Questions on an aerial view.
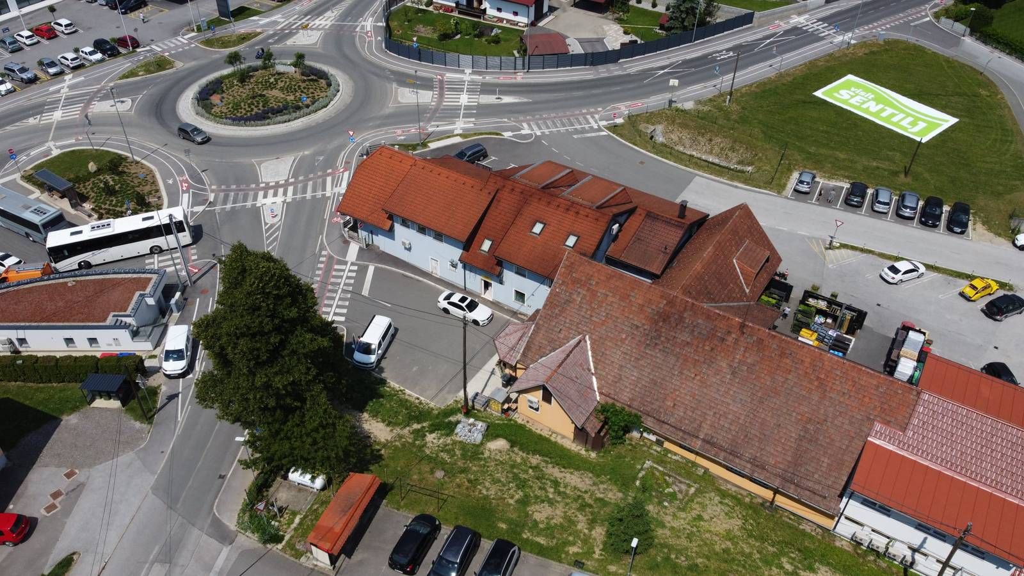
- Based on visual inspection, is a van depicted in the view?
Yes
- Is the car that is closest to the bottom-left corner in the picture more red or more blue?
red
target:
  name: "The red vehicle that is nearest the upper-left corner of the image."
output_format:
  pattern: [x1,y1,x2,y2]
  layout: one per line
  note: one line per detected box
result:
[32,27,56,41]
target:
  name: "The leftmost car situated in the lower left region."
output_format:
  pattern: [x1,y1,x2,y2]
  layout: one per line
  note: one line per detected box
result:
[0,509,38,547]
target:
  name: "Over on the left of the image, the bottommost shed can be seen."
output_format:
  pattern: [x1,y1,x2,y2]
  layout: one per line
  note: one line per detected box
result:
[308,473,383,573]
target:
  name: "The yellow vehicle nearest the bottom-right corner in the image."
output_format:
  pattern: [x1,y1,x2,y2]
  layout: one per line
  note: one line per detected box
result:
[960,278,1003,304]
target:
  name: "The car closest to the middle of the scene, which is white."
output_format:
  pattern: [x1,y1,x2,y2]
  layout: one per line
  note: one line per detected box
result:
[437,293,492,323]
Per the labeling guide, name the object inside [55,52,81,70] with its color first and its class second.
white car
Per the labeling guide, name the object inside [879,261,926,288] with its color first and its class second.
white car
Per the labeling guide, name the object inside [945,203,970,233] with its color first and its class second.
black car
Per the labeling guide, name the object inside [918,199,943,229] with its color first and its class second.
black car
